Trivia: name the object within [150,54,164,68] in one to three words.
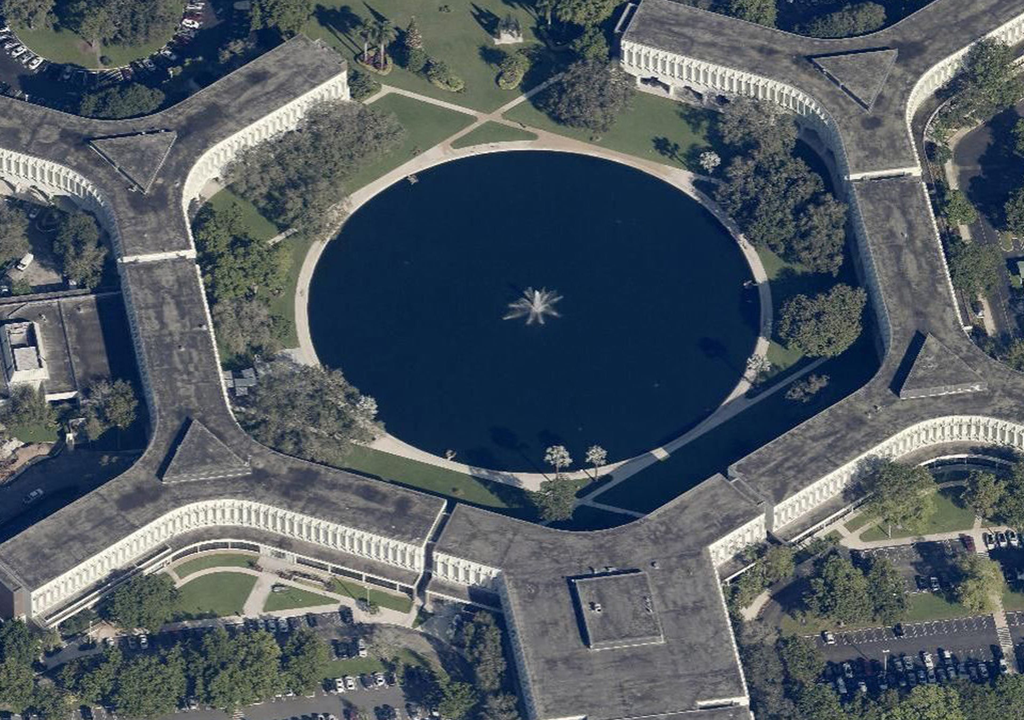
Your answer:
car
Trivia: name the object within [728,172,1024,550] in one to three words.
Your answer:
building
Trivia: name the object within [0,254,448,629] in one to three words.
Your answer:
building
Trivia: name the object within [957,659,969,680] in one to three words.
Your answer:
vehicle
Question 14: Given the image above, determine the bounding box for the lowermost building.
[425,473,767,720]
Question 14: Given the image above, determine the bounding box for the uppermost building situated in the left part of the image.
[0,33,355,294]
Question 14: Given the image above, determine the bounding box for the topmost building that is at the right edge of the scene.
[621,0,1024,211]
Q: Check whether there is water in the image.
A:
Yes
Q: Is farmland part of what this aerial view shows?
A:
No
